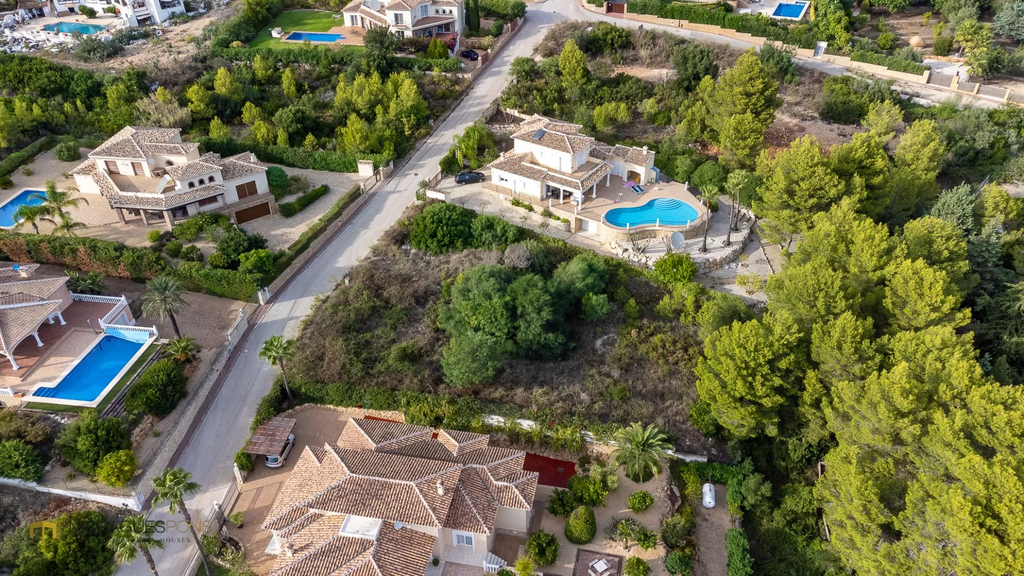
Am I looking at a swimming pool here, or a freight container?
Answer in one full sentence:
I can see a swimming pool in this picture.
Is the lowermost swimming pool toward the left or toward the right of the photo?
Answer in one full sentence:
You can find the lowermost swimming pool on the left side of the picture.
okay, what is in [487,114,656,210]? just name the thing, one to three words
house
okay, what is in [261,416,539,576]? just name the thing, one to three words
house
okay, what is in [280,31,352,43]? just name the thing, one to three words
swimming pool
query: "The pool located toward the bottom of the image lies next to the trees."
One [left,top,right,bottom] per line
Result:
[19,330,152,407]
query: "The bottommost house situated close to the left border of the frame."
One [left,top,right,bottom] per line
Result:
[0,263,78,372]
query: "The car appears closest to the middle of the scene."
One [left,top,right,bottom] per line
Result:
[455,173,485,188]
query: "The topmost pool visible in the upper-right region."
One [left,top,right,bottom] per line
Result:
[769,3,810,19]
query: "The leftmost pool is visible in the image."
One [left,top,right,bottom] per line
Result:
[0,189,48,227]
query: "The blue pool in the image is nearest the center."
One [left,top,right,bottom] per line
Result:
[603,196,701,229]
